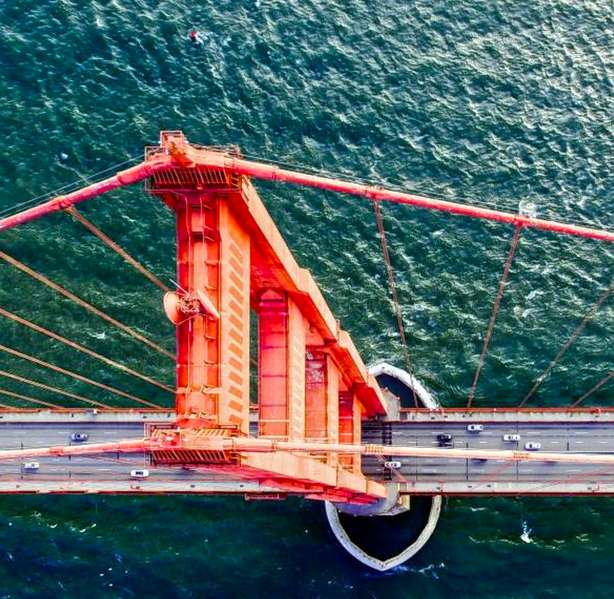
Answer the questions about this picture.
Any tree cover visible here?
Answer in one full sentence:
No, tree cover can't be seen anywhere here.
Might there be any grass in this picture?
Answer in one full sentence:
No, there's no grass in this view.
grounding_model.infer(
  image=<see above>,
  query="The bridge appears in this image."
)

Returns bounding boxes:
[0,127,614,517]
